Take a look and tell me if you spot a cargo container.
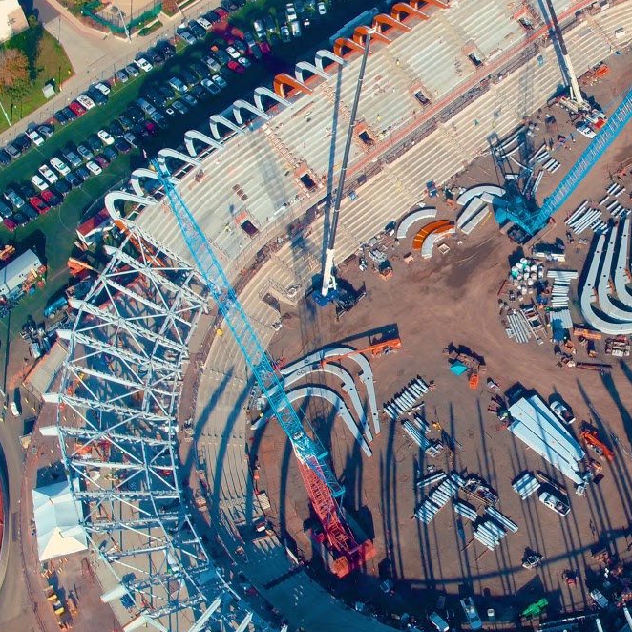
Yes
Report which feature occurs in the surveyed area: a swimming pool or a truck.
truck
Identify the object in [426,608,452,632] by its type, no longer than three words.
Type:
car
